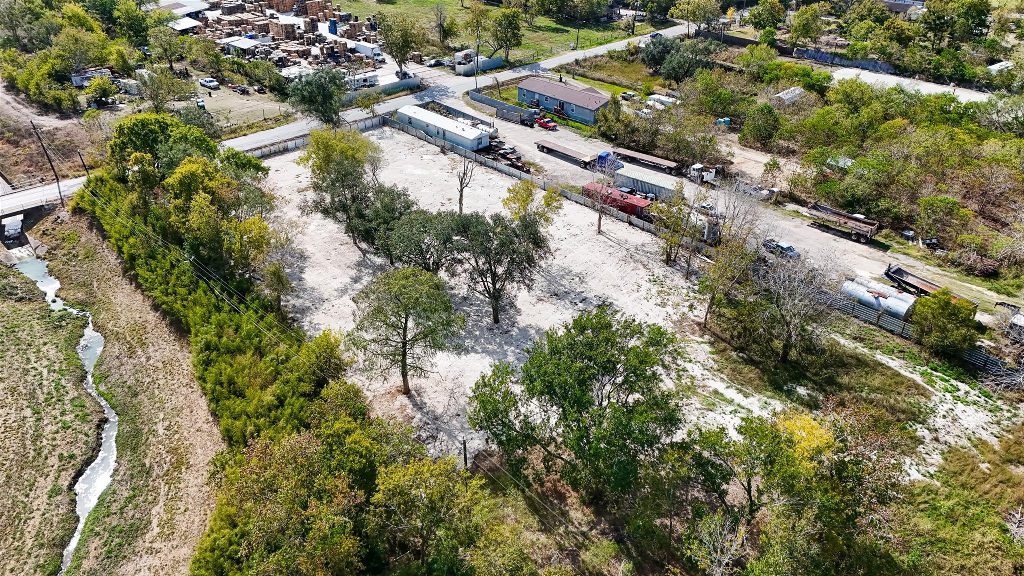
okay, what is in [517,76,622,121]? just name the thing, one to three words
house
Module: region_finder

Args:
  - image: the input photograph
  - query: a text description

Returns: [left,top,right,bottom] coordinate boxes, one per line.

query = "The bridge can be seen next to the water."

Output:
[0,179,65,238]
